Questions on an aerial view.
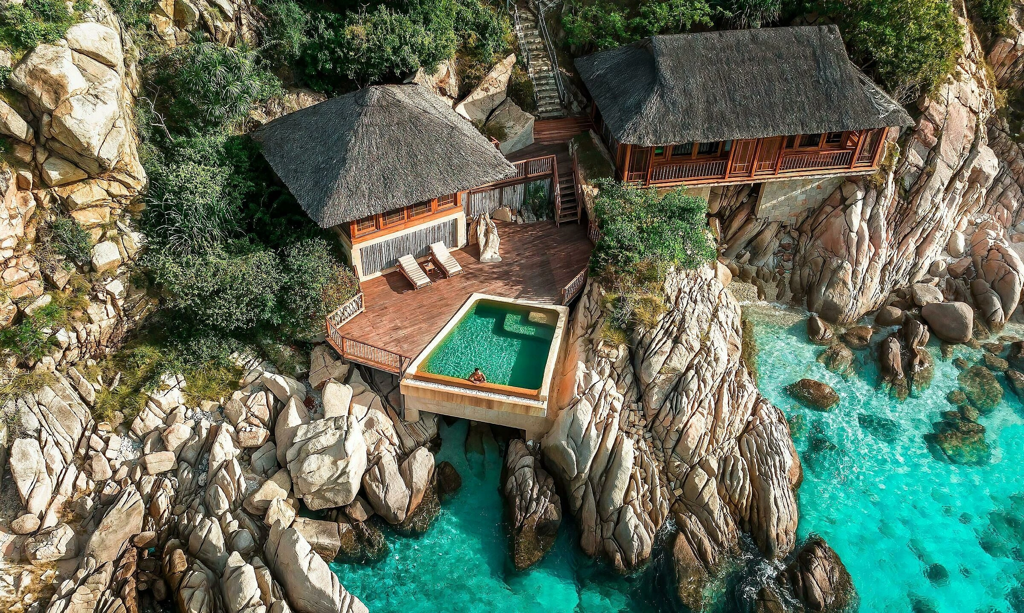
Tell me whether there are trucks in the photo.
No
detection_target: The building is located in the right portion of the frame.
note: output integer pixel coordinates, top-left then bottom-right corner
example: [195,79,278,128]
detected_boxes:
[573,17,914,194]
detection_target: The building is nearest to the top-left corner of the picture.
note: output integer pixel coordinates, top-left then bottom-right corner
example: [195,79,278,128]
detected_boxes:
[250,86,520,281]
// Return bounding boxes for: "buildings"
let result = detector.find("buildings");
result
[573,17,914,194]
[250,86,520,281]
